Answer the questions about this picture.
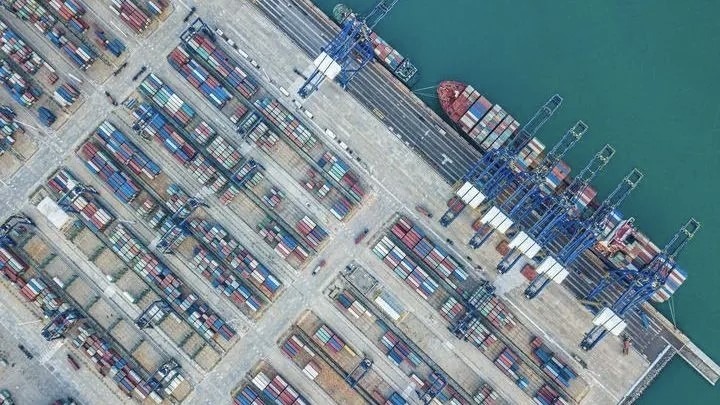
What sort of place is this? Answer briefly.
port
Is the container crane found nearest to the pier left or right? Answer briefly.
right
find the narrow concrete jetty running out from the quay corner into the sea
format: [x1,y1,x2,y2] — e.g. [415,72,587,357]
[656,326,720,385]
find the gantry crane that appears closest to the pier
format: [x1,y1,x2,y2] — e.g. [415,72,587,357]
[577,218,700,354]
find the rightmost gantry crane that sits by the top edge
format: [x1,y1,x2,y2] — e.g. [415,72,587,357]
[297,0,398,98]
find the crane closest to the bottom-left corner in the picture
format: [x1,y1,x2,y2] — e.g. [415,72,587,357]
[43,311,89,348]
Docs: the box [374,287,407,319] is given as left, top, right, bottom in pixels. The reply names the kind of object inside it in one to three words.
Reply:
shed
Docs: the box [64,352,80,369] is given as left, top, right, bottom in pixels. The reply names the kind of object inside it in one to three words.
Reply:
vehicle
